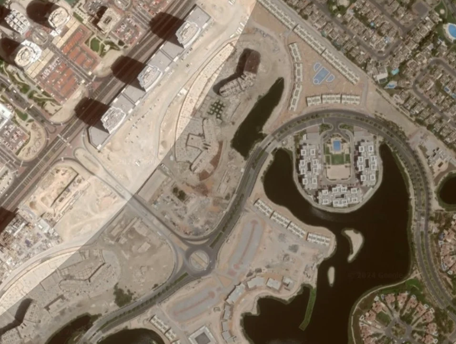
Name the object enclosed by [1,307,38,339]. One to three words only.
building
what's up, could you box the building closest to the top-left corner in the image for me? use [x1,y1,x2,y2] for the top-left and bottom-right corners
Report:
[5,8,35,35]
